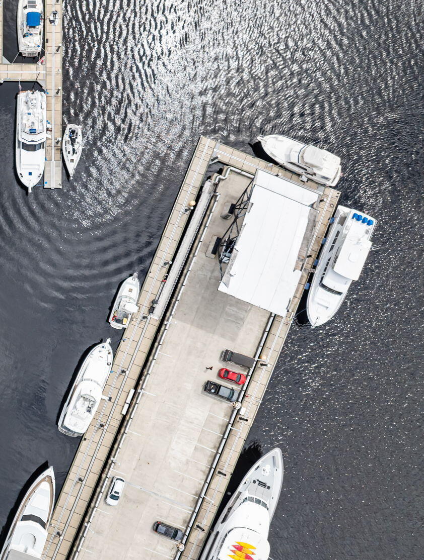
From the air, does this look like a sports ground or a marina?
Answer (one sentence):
What you see here is a marina.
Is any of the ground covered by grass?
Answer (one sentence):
No, there is no grass in the image.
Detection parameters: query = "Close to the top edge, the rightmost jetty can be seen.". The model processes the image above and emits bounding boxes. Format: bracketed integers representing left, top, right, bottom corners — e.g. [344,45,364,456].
[44,0,62,161]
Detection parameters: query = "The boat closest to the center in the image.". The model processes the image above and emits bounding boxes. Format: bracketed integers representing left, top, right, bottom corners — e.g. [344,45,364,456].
[111,270,140,329]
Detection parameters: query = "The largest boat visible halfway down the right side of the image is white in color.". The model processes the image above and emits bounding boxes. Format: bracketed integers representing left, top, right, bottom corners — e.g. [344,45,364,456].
[296,207,386,327]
